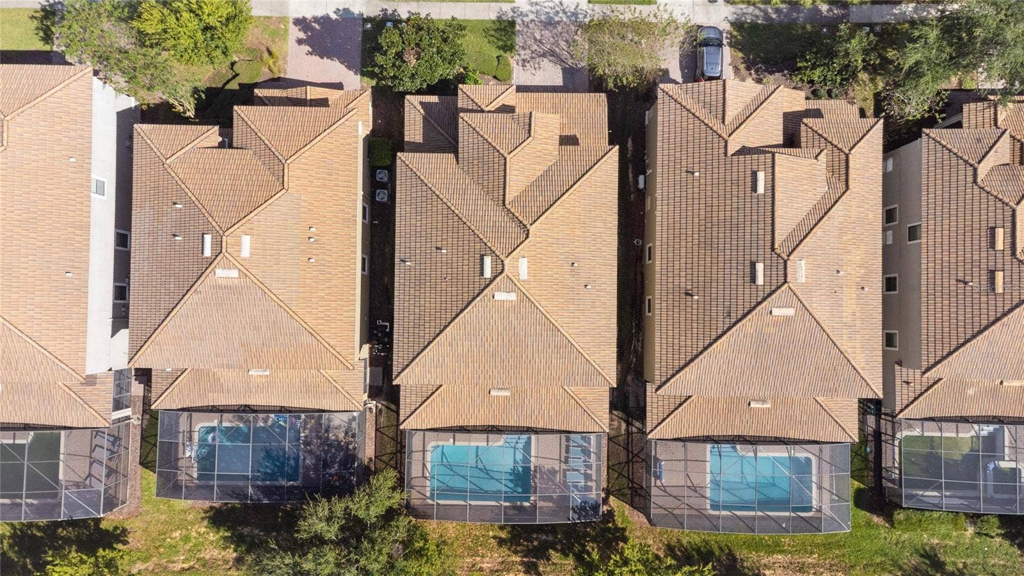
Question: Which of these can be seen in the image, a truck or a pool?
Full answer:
Looking from above, you can make out a pool.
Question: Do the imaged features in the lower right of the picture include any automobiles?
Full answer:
No, I see no automobile in the lower right of the picture.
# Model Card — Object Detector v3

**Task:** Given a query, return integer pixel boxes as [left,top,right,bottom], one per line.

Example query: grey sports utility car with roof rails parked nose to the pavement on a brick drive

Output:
[697,25,728,82]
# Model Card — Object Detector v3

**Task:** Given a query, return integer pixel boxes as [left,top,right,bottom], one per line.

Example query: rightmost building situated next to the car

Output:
[643,79,885,444]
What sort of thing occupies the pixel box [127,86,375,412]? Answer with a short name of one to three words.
house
